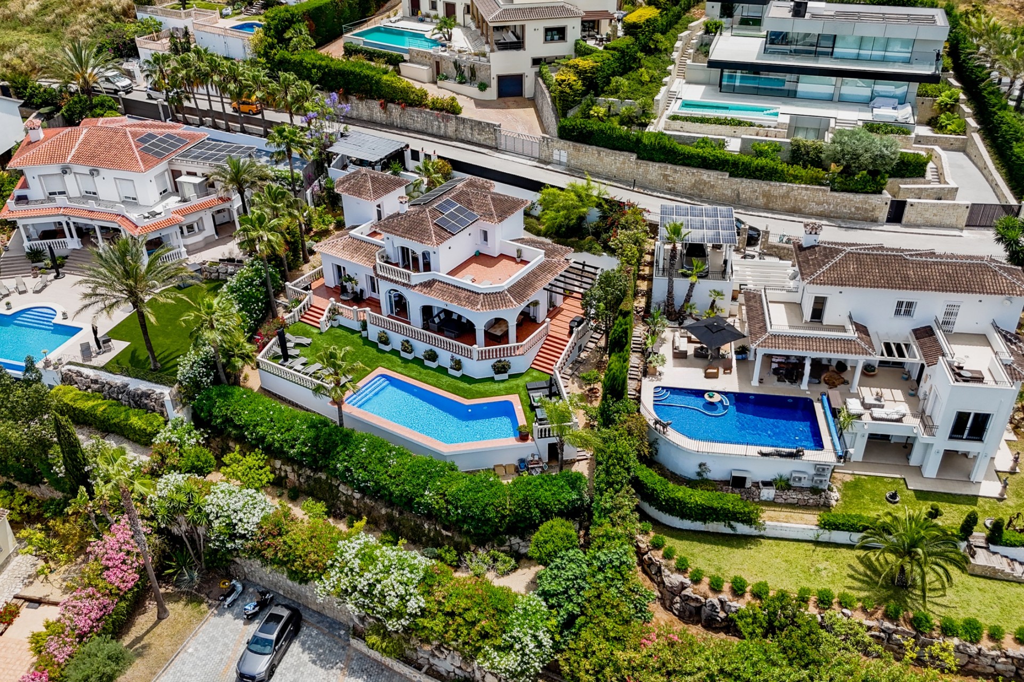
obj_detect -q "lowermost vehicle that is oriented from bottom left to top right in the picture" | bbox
[238,604,299,677]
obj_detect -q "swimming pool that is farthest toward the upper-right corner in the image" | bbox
[679,100,780,117]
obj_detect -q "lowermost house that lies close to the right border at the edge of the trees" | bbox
[746,220,1024,482]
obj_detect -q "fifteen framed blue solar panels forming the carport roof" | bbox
[659,205,737,244]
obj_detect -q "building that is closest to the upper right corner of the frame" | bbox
[706,0,953,118]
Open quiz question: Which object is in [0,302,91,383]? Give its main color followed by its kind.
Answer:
blue swimming pool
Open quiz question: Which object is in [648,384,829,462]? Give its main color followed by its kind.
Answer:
blue swimming pool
